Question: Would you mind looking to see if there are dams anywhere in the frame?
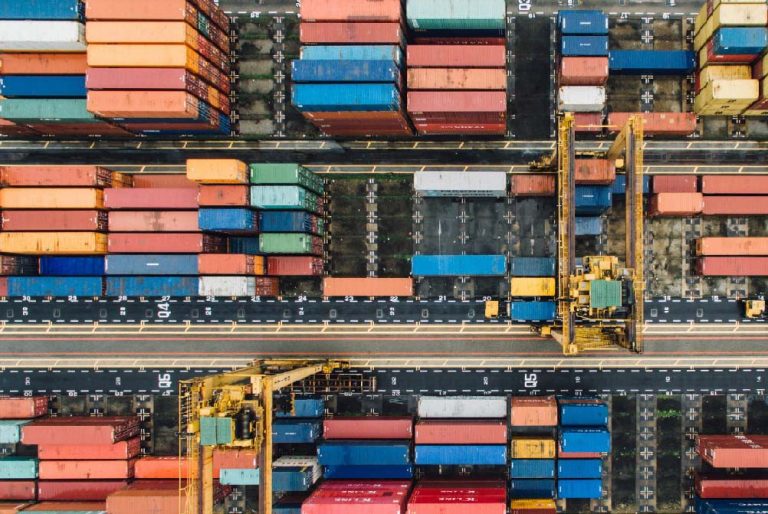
No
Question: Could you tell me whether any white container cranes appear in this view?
No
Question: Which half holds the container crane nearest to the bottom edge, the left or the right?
left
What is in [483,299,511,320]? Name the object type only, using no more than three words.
vehicle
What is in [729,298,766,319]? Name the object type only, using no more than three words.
vehicle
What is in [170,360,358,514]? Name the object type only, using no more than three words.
container crane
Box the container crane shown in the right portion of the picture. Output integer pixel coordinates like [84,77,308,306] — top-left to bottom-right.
[523,111,646,355]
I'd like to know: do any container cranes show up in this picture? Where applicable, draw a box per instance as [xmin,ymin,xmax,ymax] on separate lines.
[170,360,358,514]
[523,111,646,355]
